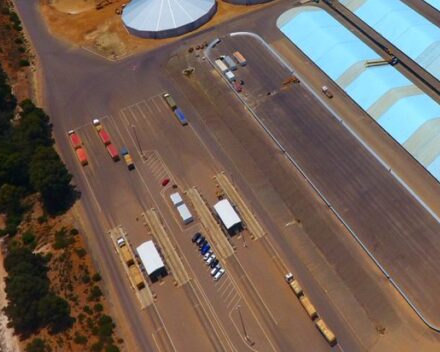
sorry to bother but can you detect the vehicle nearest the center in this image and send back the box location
[212,188,229,200]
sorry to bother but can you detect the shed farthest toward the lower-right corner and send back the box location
[213,198,243,237]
